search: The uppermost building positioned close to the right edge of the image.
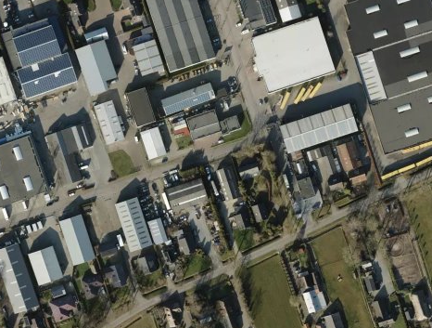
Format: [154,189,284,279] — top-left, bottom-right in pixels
[344,0,432,56]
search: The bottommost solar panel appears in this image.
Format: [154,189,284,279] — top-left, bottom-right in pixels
[166,94,205,115]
